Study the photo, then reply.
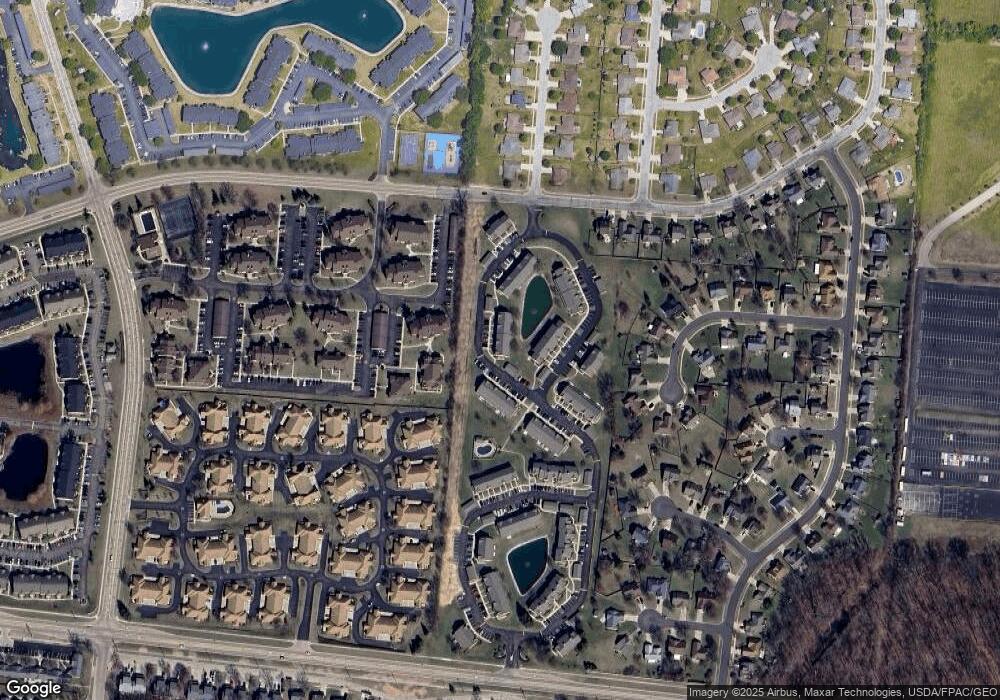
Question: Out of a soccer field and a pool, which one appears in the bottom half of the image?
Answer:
pool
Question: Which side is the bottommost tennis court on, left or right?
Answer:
left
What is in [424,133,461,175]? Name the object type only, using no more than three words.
sports court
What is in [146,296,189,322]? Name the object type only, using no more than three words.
building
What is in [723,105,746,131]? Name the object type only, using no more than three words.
house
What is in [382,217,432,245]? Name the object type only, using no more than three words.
building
